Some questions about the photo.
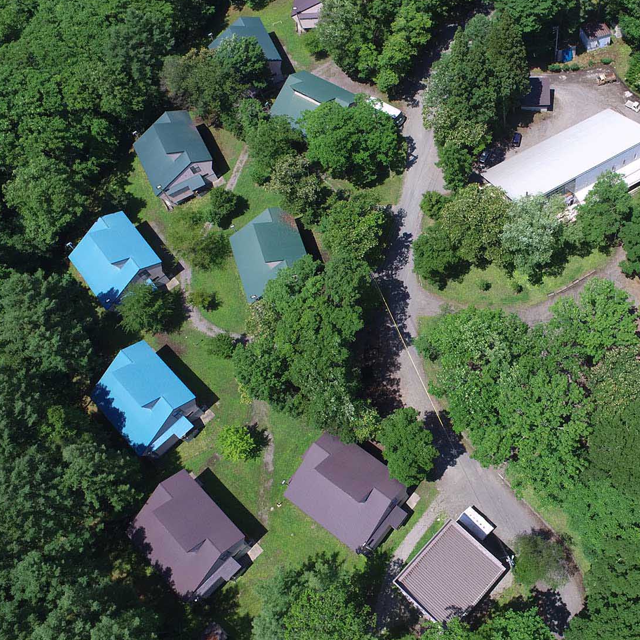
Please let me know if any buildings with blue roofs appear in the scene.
Yes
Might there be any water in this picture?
No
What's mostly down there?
trees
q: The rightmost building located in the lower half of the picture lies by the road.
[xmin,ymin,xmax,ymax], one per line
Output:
[393,521,507,631]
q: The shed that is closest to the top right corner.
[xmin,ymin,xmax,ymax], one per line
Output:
[583,23,611,53]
